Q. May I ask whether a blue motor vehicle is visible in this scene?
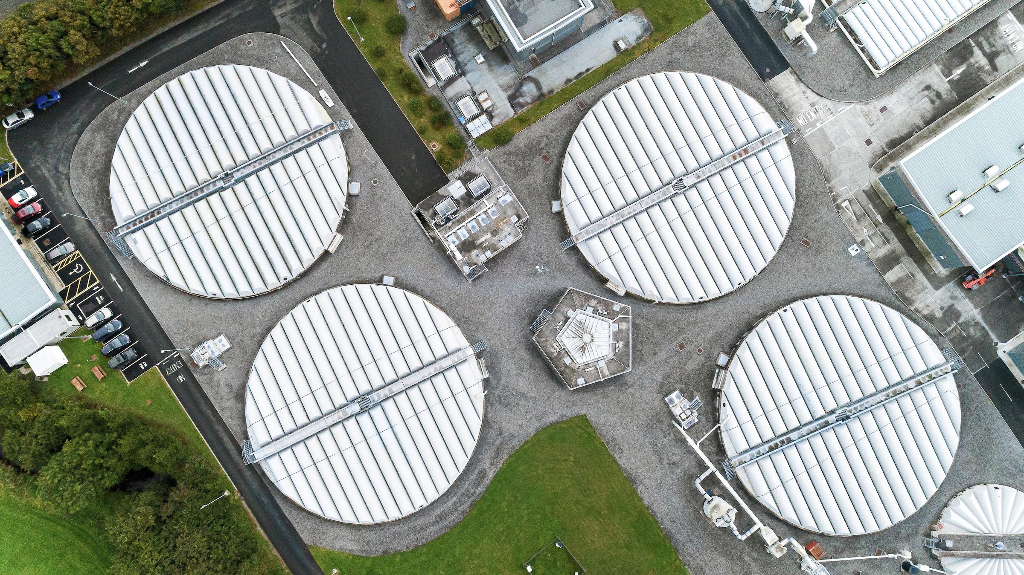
Yes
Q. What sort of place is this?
industrial area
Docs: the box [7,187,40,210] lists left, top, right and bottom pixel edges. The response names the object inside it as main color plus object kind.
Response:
white car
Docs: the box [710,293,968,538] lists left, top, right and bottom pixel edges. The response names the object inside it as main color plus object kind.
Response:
white storage tank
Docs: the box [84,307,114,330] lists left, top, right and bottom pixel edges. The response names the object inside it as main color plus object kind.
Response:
white car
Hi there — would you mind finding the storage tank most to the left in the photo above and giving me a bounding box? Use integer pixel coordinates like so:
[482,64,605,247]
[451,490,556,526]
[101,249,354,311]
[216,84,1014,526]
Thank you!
[105,59,362,302]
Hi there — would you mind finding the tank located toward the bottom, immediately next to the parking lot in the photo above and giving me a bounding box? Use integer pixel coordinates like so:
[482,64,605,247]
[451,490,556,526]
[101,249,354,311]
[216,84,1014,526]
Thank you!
[240,275,489,526]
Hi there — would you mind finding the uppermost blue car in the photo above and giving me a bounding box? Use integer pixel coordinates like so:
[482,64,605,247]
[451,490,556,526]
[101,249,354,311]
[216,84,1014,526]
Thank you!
[34,90,64,110]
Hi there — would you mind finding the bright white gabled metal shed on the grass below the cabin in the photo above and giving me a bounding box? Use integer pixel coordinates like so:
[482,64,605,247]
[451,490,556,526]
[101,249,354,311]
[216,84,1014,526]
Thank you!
[20,345,78,381]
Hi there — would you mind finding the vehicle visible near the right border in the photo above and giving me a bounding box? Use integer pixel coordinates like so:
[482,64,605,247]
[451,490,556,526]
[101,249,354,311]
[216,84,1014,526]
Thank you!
[959,260,1015,295]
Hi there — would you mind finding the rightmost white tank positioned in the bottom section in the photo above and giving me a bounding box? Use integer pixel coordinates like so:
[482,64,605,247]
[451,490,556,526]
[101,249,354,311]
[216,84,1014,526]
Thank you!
[921,479,1024,575]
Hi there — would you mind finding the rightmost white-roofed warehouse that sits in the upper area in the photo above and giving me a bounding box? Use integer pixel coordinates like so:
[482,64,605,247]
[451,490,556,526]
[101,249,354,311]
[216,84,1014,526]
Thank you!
[878,81,1024,274]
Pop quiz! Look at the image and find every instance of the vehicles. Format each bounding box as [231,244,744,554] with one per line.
[106,346,140,371]
[45,241,77,263]
[93,319,124,342]
[100,333,132,357]
[84,307,114,330]
[11,202,44,225]
[7,187,40,210]
[34,90,64,110]
[2,108,36,129]
[21,216,53,238]
[0,161,20,183]
[959,260,1015,295]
